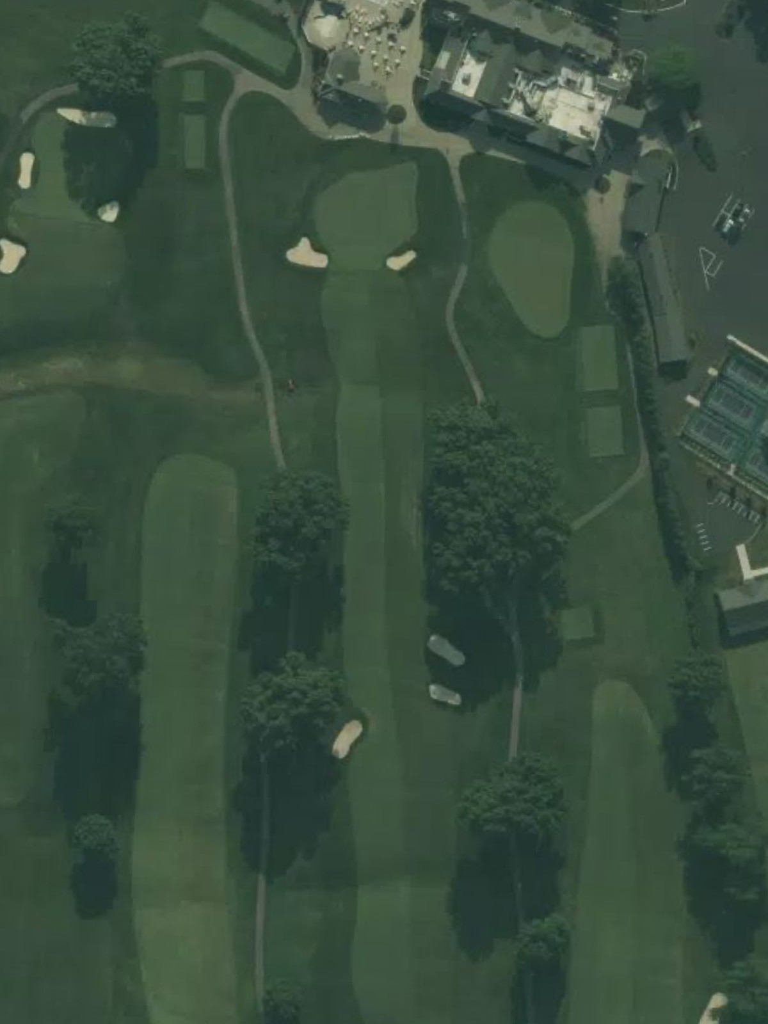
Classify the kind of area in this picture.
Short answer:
golf course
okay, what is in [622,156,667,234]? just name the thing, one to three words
building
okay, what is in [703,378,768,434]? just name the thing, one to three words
tennis court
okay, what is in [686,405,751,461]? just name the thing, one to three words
tennis court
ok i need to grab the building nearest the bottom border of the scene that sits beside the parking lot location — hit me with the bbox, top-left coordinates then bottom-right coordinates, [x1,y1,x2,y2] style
[720,583,768,630]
